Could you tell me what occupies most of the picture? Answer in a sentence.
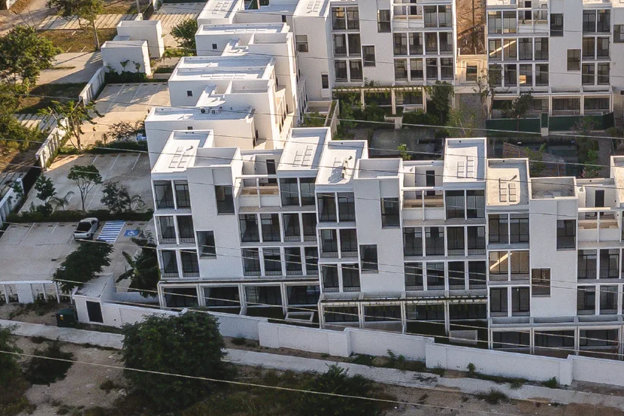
What you mostly see from above here is buildings.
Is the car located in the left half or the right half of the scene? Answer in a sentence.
You can find the car on the left side of the picture.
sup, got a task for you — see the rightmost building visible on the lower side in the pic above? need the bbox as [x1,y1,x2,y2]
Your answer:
[485,156,624,365]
